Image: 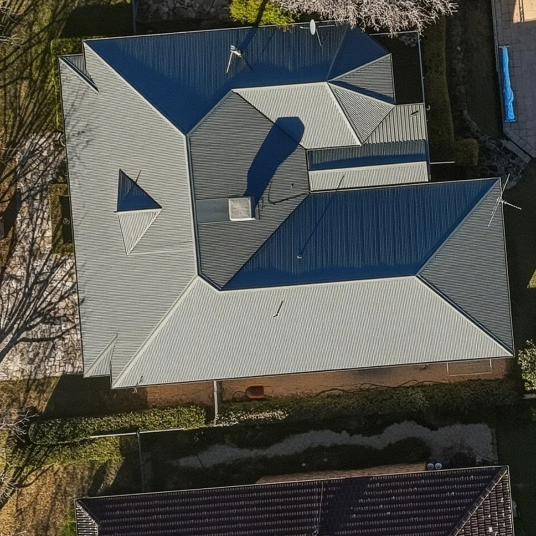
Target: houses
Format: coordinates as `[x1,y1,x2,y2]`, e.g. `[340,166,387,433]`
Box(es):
[54,21,516,392]
[72,459,516,536]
